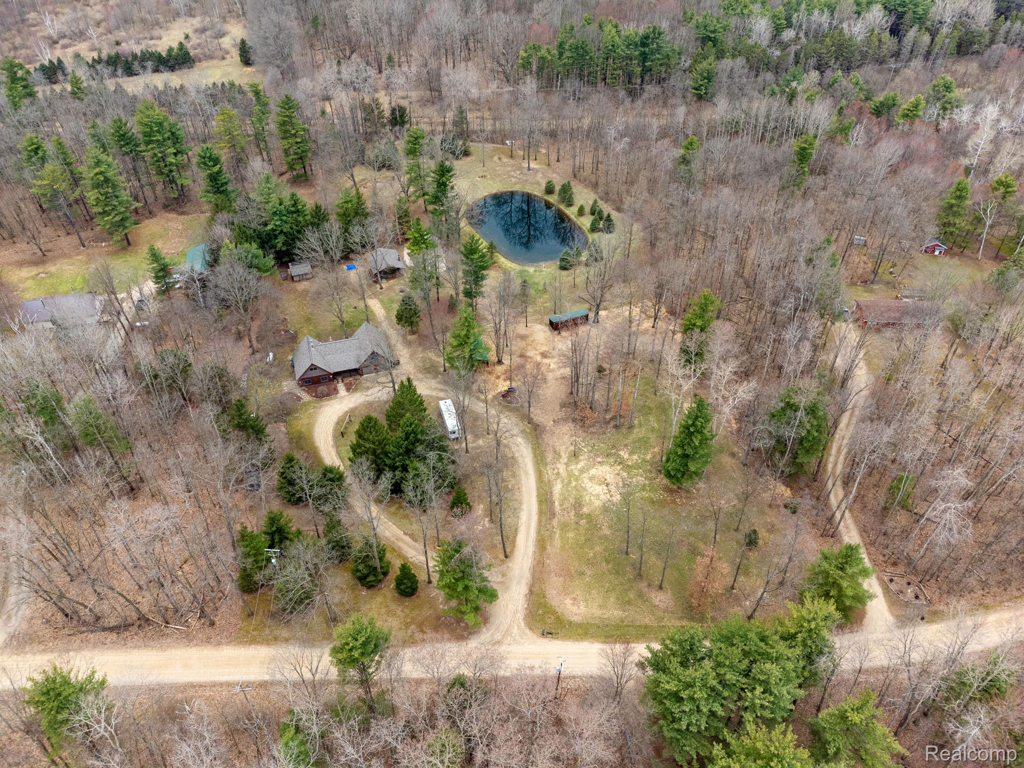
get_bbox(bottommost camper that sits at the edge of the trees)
[439,400,460,442]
